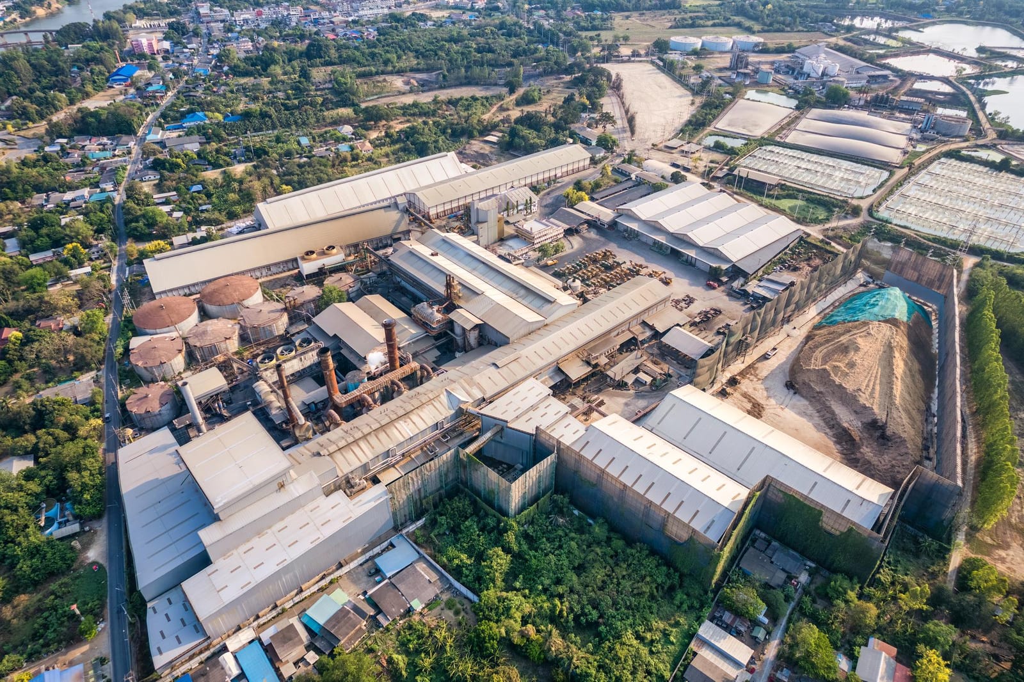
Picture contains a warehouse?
Yes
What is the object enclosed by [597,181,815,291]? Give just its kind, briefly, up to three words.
warehouse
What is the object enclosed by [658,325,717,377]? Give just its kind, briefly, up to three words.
shed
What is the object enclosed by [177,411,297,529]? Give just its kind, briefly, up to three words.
building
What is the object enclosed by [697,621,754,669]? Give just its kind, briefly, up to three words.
house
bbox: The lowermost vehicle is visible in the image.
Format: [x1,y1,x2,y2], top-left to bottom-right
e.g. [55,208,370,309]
[362,564,379,577]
